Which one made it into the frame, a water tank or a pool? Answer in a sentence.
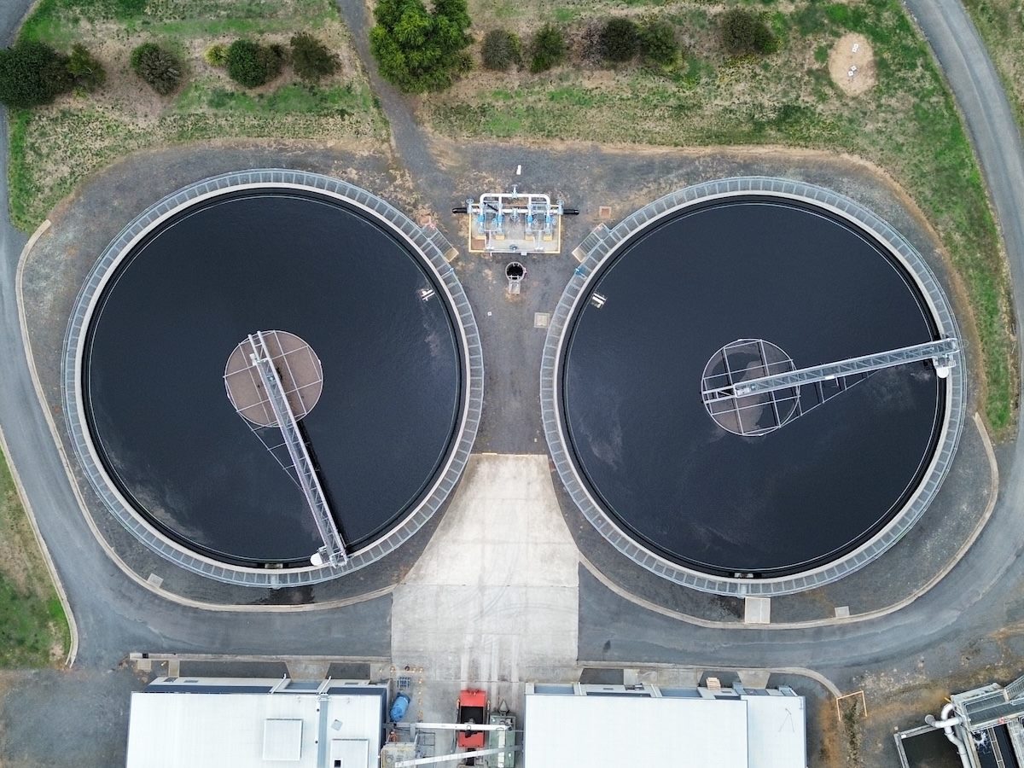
This aerial view contains a water tank.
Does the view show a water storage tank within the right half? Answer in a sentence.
Yes, there is a water storage tank within the right half.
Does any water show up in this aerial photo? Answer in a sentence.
Yes, some water is visible.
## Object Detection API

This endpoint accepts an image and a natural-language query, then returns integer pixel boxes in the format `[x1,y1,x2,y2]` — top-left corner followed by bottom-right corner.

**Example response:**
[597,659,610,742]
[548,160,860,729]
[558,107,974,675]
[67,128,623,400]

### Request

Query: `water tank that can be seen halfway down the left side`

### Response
[60,168,481,589]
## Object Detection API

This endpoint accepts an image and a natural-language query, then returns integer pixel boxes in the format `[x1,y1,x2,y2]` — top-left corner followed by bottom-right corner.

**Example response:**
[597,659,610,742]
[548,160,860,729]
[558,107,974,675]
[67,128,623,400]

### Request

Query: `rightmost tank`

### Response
[544,175,967,599]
